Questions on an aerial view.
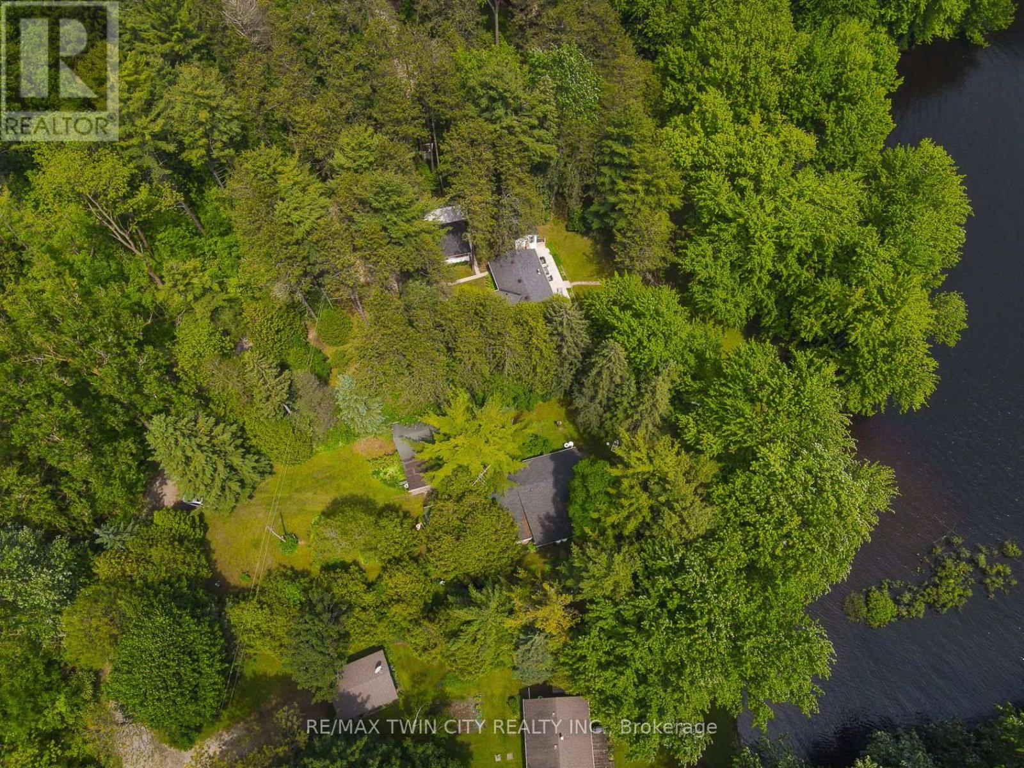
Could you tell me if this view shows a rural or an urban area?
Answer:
rural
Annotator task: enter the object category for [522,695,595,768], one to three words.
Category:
house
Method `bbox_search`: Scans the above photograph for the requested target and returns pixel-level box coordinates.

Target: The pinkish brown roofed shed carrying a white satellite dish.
[323,647,399,718]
